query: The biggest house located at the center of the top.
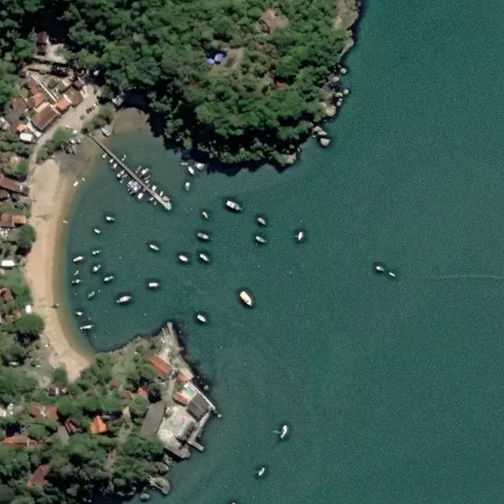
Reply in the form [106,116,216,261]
[259,9,283,33]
